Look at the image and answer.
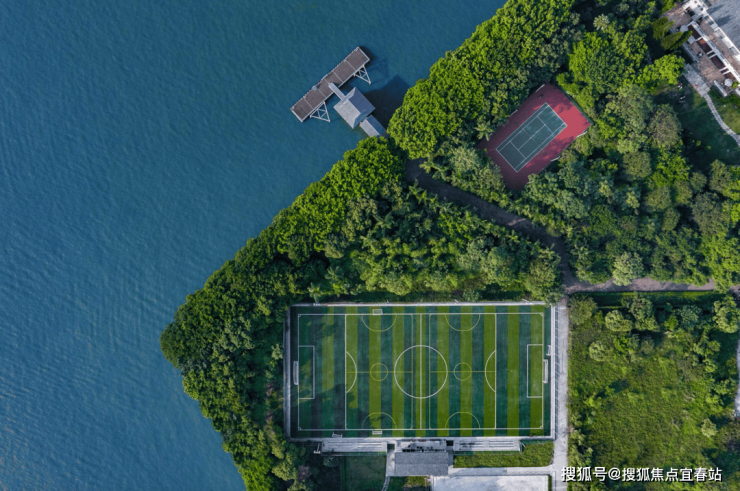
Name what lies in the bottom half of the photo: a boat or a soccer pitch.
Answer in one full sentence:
The one visible in the bottom half of the photo is a soccer pitch.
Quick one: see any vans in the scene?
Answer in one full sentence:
No, there's no van here.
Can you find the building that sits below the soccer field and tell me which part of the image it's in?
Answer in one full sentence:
The building that sits below the soccer field is located in the bottom region of the scene.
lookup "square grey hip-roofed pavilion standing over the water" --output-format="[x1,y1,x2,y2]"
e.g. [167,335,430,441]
[334,87,375,129]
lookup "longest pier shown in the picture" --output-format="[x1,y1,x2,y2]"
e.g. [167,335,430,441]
[289,46,371,123]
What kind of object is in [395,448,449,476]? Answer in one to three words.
building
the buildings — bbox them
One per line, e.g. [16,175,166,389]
[677,0,740,93]
[334,87,375,129]
[395,448,449,476]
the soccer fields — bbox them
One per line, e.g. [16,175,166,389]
[290,305,551,438]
